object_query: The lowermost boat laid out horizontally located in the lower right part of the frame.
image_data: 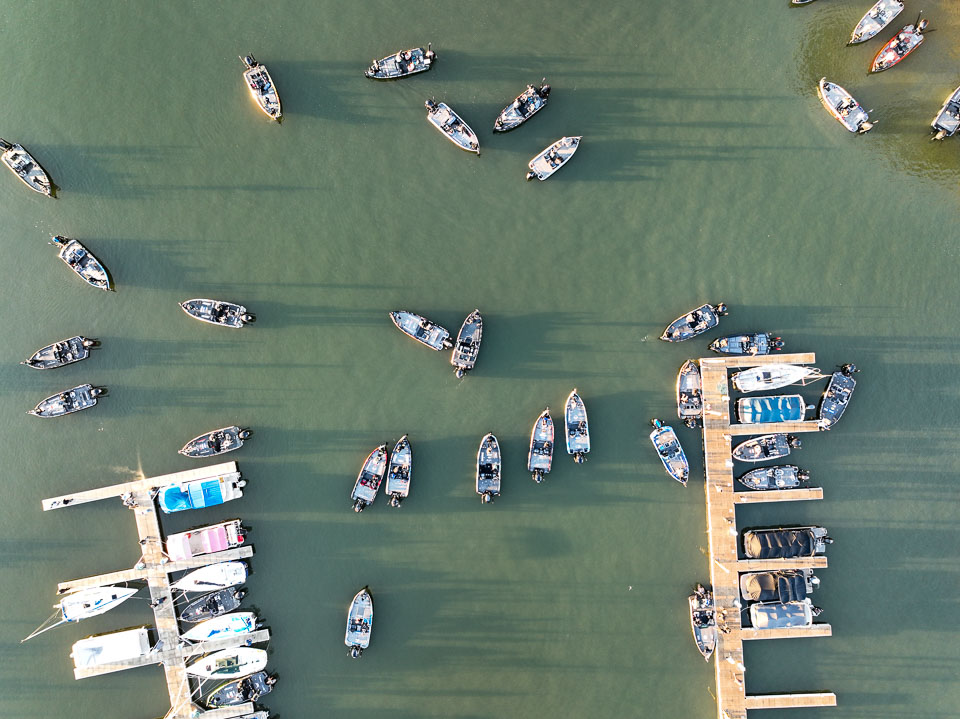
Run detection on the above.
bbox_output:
[748,601,822,631]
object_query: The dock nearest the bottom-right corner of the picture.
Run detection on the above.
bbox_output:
[698,351,837,719]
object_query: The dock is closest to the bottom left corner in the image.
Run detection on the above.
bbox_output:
[42,461,271,719]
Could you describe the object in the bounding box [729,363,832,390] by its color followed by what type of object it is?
white boat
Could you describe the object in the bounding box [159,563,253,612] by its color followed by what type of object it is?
white boat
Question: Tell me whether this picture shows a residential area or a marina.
marina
